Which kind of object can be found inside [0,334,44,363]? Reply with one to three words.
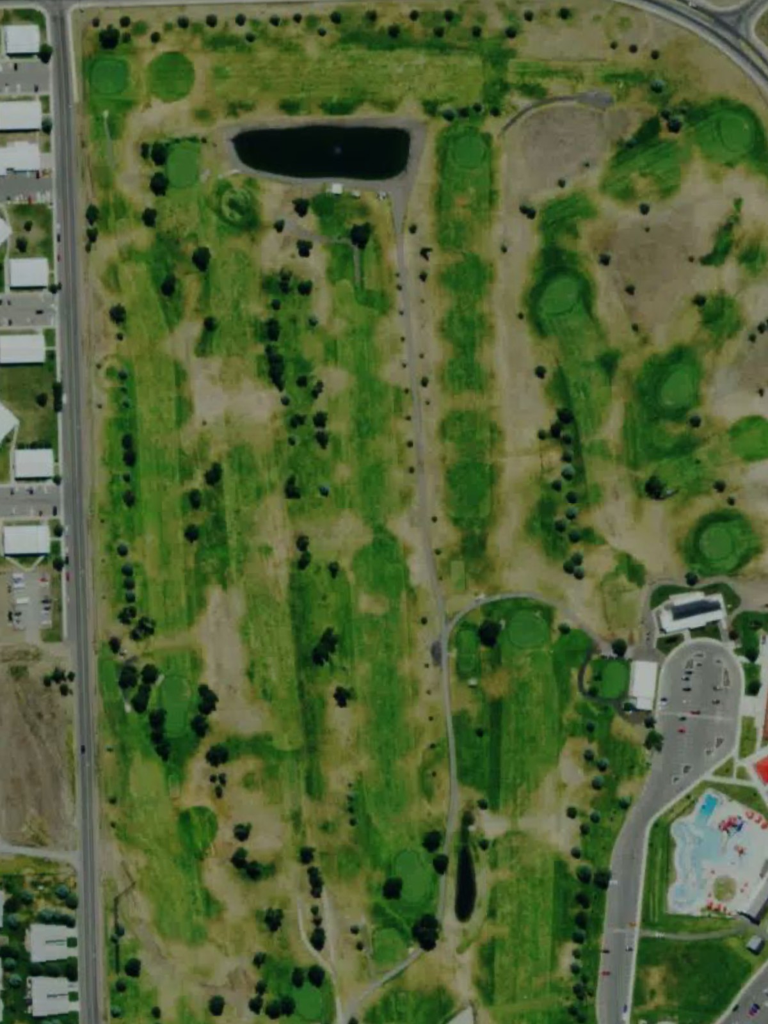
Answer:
house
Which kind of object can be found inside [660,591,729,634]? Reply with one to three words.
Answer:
building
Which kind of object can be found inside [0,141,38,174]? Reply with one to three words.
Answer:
house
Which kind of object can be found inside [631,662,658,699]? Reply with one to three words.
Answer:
shed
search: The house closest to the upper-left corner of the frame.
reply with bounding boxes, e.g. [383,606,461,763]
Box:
[4,24,39,52]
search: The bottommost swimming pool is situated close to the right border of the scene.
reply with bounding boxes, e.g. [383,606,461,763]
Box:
[666,788,768,918]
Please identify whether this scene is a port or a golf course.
golf course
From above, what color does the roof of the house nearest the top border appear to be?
white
